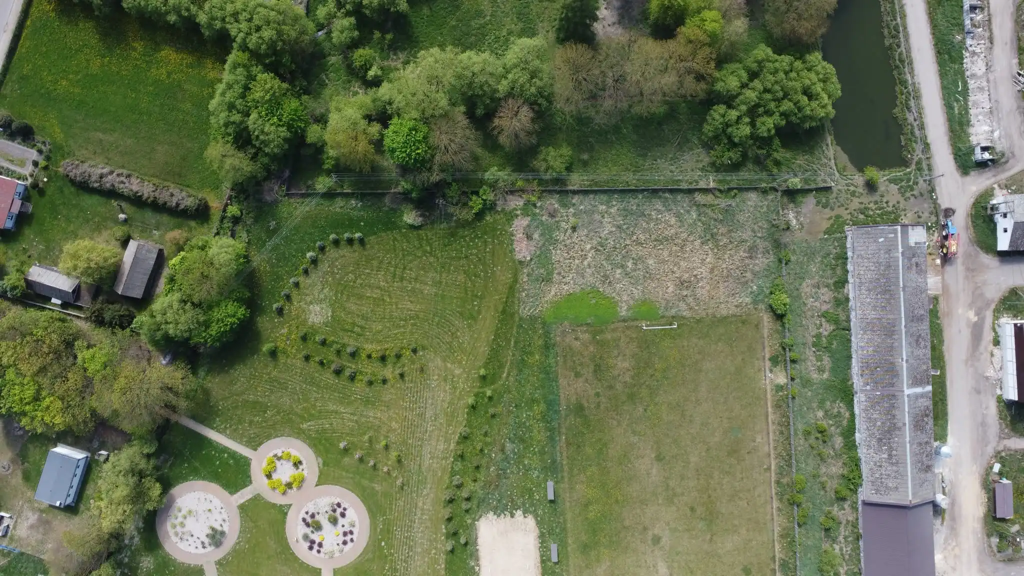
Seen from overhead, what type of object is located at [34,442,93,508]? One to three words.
building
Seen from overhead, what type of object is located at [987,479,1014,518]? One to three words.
shed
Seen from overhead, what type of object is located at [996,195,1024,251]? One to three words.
building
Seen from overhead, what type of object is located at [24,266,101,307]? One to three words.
barn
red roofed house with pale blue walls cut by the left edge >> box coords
[0,175,30,229]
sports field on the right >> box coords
[558,316,774,576]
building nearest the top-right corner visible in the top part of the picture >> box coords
[960,0,988,45]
